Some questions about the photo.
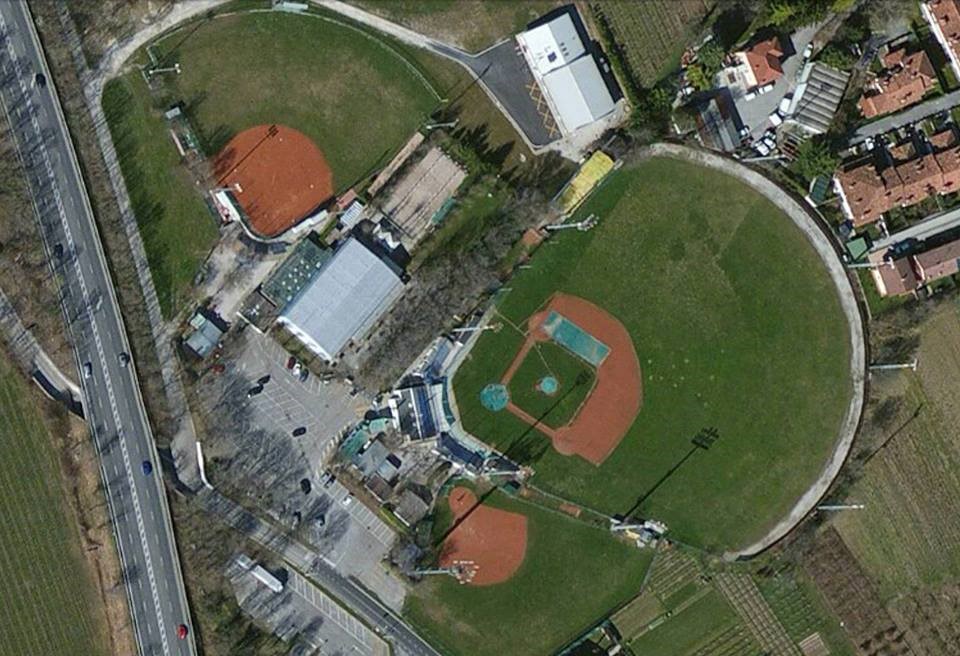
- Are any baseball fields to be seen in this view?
Yes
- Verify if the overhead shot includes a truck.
Yes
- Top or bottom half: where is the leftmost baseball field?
top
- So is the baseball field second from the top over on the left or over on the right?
right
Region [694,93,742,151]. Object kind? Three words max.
shed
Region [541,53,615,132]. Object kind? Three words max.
building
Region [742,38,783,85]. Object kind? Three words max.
house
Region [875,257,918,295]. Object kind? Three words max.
house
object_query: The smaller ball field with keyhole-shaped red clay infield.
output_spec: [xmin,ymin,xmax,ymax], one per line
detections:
[404,481,656,656]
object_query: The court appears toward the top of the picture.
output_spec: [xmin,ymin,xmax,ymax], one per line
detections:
[379,146,469,238]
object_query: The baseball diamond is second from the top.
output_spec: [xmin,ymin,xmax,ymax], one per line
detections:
[454,142,866,562]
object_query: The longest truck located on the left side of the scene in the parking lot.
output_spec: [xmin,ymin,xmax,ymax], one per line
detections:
[239,555,282,590]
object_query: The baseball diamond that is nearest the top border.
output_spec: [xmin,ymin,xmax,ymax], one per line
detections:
[150,11,440,239]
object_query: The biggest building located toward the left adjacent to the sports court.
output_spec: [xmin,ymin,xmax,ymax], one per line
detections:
[272,237,404,365]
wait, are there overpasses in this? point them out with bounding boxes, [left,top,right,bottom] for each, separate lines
[80,378,166,492]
